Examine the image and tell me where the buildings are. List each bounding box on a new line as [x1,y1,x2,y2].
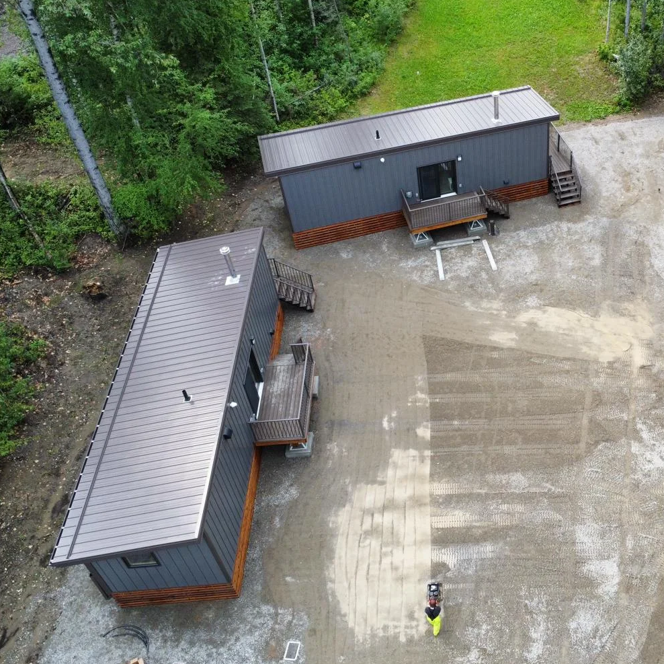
[257,86,561,248]
[46,228,284,609]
